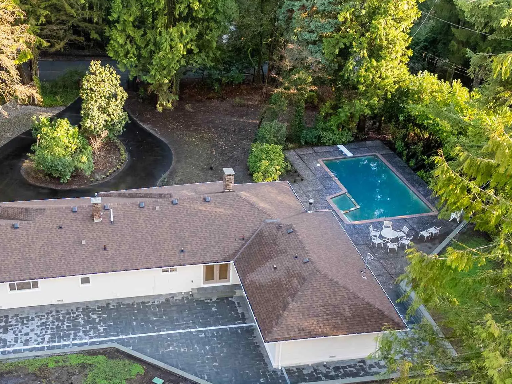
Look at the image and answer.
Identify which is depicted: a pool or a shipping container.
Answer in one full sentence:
It is a pool that can be seen here.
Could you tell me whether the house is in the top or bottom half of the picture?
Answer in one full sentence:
Seen from above, the house lies in the bottom half of the view.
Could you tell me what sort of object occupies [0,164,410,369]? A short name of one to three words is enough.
house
